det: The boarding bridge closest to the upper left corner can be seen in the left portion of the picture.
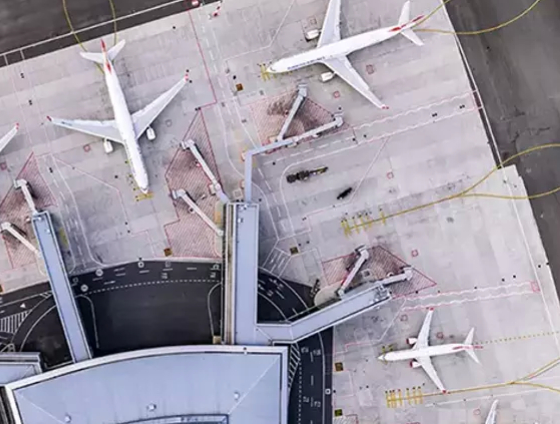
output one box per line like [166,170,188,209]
[14,178,41,215]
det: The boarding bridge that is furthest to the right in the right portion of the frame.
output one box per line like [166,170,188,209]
[376,266,413,285]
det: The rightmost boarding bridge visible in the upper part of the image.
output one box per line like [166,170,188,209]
[294,115,342,145]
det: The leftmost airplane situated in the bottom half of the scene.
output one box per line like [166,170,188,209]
[380,309,482,392]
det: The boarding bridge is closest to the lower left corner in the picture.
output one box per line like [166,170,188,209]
[0,223,42,258]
